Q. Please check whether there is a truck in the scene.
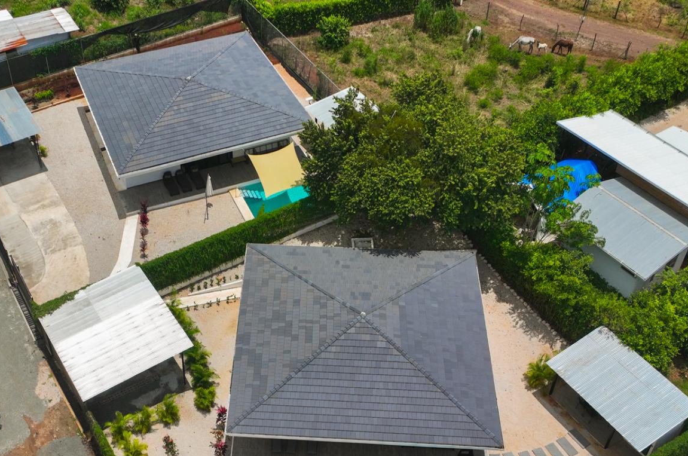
No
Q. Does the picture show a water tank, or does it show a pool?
pool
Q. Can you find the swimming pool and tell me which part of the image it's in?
center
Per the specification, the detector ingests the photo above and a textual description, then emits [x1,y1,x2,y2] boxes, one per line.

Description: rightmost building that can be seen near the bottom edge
[548,326,688,456]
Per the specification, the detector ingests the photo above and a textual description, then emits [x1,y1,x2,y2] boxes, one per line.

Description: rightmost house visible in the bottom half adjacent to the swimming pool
[226,242,504,456]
